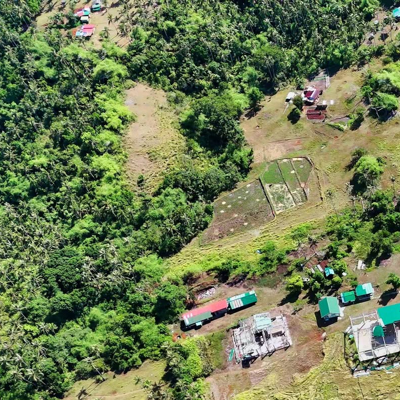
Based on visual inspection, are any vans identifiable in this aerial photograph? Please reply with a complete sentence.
No, there's no van here.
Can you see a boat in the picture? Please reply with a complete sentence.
No, no boat is visible in the view.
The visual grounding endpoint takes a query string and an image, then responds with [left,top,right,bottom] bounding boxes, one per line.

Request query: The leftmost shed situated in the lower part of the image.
[183,302,231,331]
